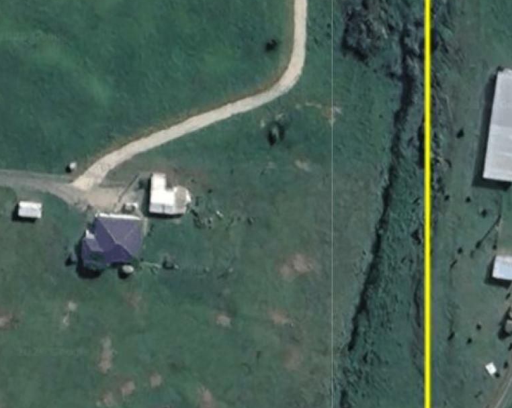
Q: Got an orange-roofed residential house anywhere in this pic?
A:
No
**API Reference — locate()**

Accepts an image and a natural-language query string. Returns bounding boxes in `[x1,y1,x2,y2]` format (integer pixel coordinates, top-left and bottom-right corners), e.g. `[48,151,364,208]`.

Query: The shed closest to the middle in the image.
[149,173,186,213]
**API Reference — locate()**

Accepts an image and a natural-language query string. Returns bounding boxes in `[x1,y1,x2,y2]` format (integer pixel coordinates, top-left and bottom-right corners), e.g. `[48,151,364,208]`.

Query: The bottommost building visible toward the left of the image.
[82,213,141,263]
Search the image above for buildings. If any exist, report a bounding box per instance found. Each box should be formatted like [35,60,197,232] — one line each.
[149,173,186,213]
[17,201,41,218]
[82,213,141,263]
[483,71,512,181]
[492,256,512,280]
